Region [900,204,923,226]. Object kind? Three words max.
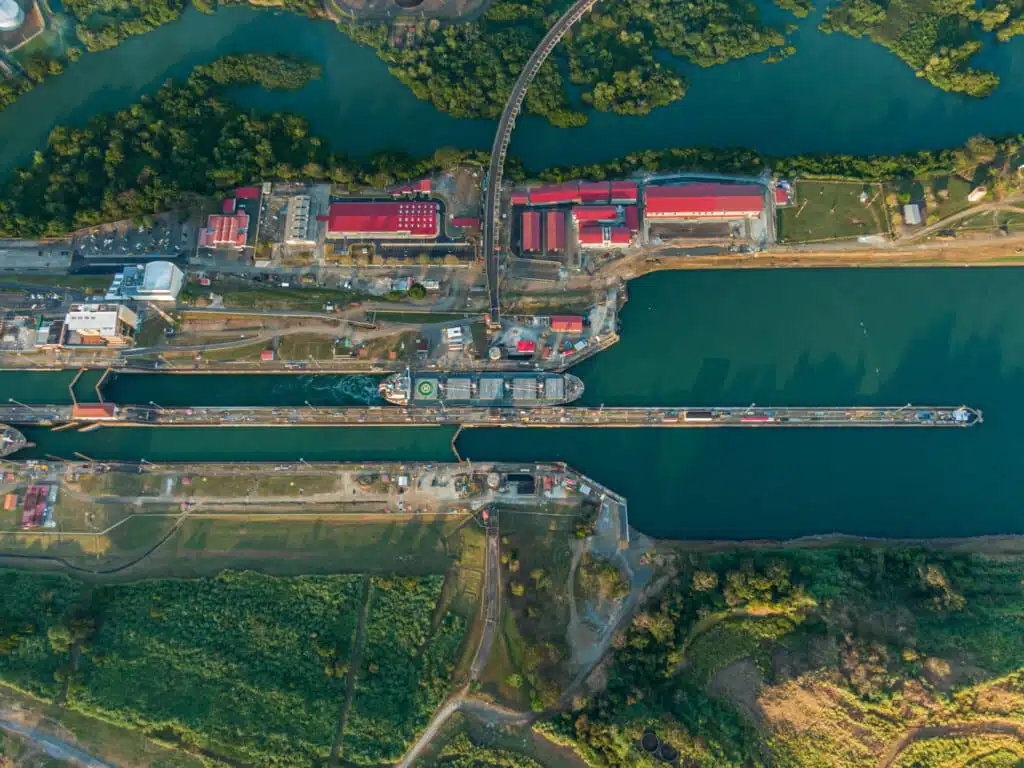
shed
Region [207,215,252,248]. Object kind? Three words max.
building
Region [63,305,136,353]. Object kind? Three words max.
building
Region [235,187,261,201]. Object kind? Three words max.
shed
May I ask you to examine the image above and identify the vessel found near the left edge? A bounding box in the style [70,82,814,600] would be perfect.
[0,426,27,461]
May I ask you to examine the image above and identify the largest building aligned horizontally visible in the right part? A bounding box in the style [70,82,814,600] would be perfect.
[644,186,765,216]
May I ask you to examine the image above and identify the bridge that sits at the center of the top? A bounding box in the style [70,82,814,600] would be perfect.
[485,0,600,325]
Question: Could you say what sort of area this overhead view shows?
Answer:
port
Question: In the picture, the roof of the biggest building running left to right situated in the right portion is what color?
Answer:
red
